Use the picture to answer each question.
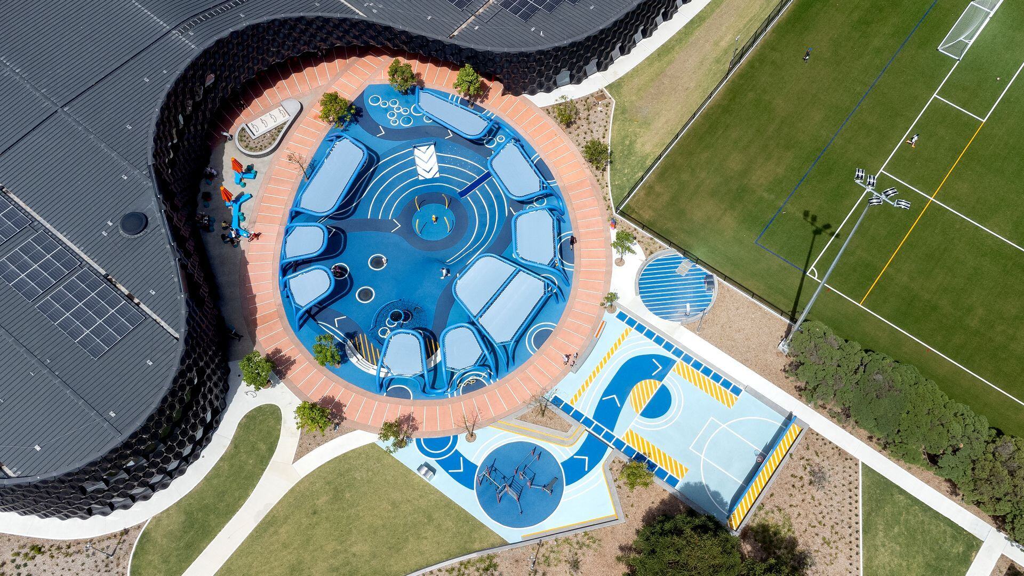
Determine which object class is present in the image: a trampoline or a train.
trampoline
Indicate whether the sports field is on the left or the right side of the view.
right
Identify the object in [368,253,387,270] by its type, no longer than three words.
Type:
trampoline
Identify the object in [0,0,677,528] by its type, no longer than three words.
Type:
building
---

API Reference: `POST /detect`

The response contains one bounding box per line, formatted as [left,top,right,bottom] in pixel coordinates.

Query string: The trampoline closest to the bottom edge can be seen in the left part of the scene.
[355,286,375,304]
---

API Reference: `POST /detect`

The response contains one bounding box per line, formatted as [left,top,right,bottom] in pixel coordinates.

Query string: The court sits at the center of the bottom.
[375,310,788,543]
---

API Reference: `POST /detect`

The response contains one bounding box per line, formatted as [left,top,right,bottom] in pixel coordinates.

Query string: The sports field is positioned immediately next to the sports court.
[618,0,1024,437]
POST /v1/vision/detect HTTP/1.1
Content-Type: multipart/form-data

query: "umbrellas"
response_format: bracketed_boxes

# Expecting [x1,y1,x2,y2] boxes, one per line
[233,160,245,180]
[220,186,233,202]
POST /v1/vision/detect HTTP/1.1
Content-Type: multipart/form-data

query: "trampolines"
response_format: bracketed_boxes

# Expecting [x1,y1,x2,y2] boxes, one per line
[330,262,350,279]
[368,253,387,270]
[355,286,375,304]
